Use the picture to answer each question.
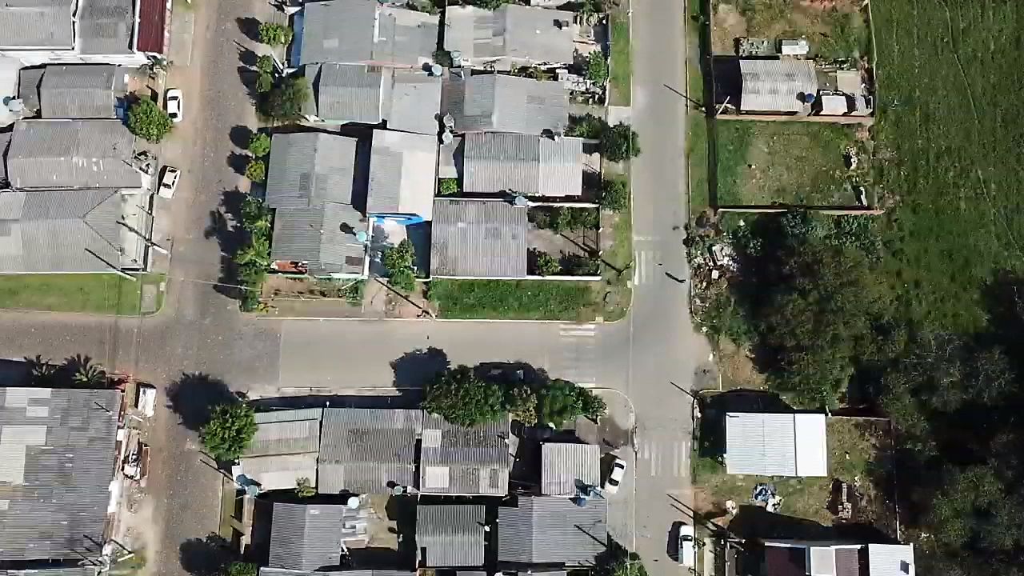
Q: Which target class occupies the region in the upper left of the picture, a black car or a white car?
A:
white car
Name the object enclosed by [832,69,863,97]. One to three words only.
house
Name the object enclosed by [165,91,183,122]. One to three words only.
car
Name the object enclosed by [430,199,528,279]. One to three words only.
house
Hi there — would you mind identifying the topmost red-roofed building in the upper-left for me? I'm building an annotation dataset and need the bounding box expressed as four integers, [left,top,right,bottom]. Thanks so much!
[136,0,168,60]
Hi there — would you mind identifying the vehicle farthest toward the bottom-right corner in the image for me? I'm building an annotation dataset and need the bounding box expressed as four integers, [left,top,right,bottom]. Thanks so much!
[677,524,696,568]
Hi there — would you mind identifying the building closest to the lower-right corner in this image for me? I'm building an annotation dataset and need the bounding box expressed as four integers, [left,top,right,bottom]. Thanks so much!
[857,542,914,576]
